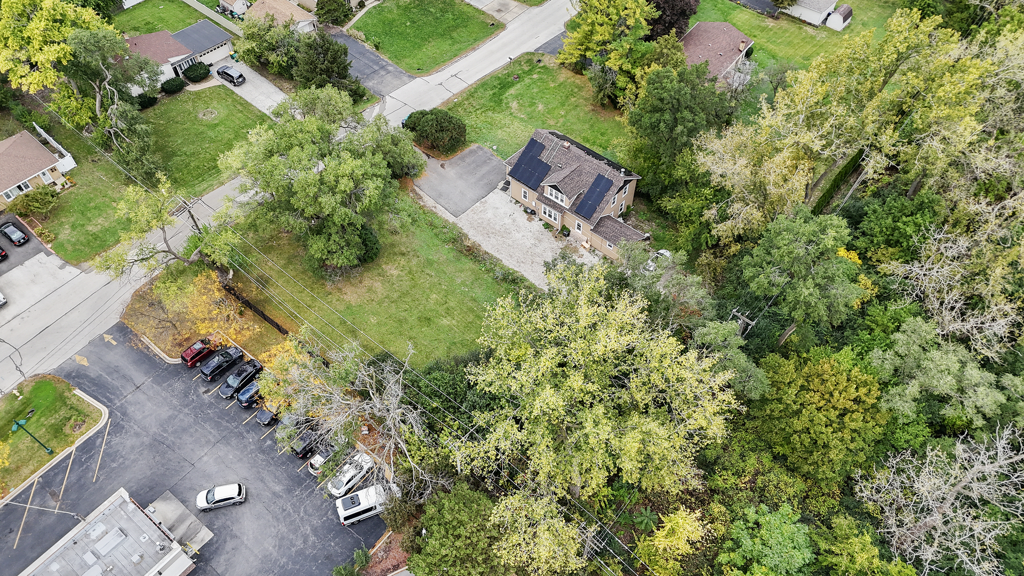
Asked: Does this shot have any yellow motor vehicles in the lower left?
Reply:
No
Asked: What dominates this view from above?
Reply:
trees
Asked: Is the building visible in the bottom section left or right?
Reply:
left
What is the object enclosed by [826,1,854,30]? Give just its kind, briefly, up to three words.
shed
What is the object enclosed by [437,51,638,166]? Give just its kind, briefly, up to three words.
house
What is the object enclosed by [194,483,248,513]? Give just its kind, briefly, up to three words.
car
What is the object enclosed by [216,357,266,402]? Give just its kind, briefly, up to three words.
car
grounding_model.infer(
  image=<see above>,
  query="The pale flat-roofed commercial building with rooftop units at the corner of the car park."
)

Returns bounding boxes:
[19,486,202,576]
